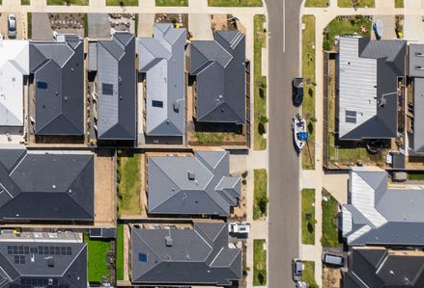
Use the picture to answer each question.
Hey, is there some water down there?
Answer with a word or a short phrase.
No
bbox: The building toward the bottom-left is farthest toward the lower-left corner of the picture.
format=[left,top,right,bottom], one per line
[0,238,88,288]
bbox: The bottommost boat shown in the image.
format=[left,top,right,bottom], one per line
[295,116,307,155]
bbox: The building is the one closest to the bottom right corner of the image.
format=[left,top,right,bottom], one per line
[339,246,424,288]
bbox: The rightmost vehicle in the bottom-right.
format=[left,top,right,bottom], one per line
[322,254,345,268]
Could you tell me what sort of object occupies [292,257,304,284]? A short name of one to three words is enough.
vehicle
